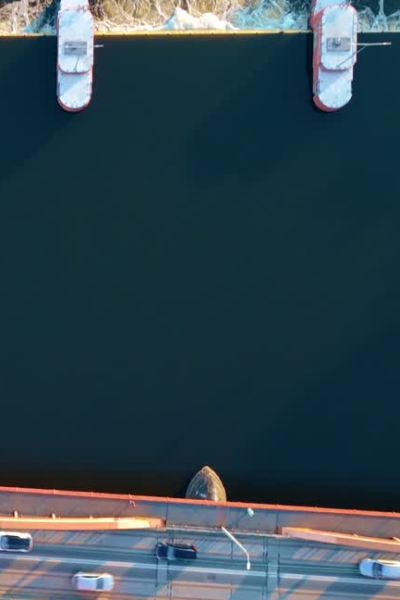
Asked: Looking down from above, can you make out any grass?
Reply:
No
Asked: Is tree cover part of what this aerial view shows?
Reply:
No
